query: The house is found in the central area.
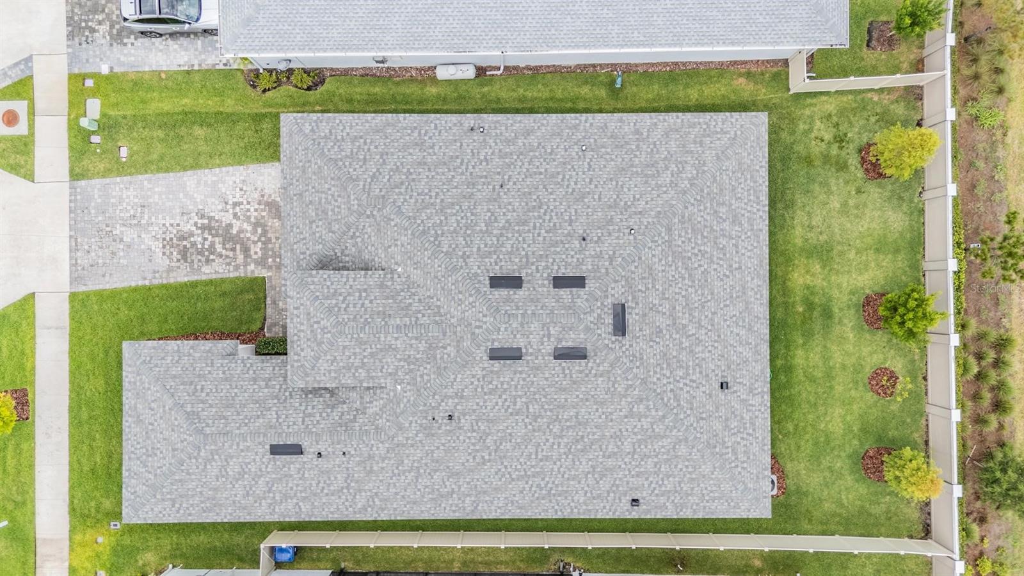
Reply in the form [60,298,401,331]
[122,112,771,523]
